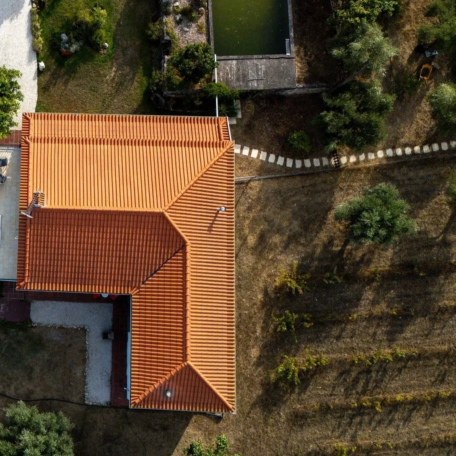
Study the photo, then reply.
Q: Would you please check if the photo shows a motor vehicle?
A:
No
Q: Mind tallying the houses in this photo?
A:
1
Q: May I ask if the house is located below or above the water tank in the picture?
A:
below it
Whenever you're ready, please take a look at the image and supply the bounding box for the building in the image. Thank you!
[15,111,239,415]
